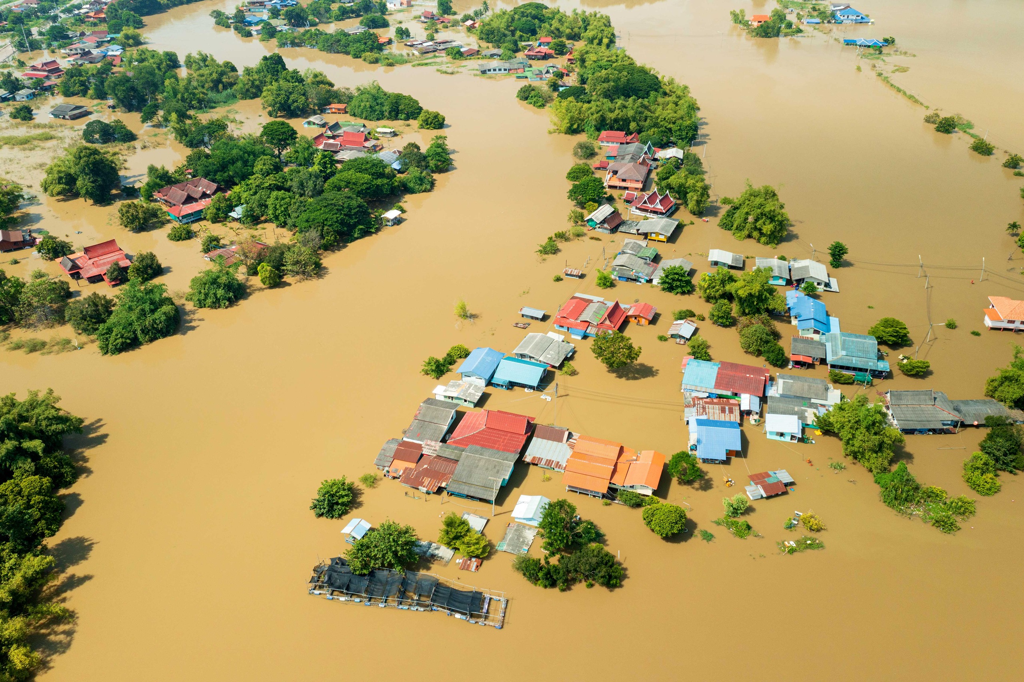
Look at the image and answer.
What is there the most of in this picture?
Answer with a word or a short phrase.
water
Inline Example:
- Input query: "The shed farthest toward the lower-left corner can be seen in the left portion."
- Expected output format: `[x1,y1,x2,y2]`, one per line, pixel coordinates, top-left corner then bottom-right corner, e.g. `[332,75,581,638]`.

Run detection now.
[341,519,371,546]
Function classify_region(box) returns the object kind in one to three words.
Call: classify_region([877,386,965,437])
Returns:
house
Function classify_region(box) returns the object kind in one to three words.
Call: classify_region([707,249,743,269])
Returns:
shed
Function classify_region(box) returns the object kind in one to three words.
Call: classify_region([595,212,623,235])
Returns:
shed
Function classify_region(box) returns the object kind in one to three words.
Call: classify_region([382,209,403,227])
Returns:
gazebo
